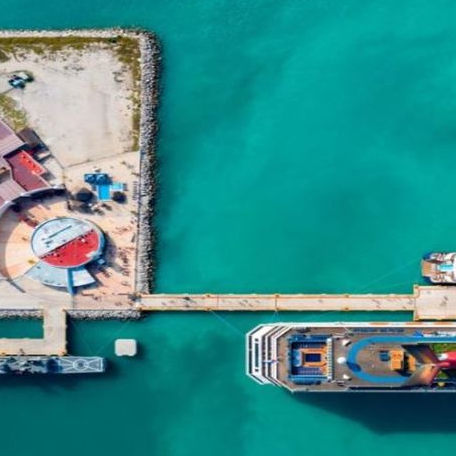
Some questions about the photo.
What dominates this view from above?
water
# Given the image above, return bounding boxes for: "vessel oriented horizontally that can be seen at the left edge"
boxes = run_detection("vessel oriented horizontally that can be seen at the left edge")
[0,356,105,375]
